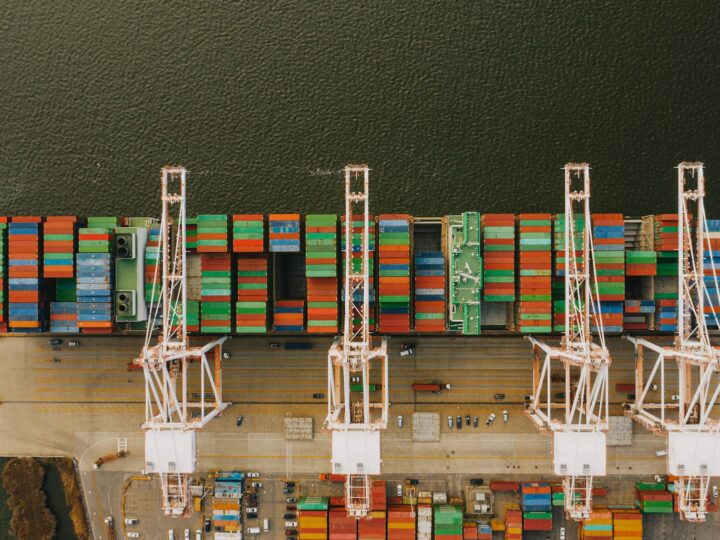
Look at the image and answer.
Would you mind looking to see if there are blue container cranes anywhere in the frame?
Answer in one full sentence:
No, there's no blue container crane here.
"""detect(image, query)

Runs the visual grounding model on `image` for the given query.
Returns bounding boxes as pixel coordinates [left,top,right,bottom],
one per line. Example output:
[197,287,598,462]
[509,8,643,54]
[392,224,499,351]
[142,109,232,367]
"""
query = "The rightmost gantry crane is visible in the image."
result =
[615,166,720,520]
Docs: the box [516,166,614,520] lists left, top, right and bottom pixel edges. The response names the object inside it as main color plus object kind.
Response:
white container crane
